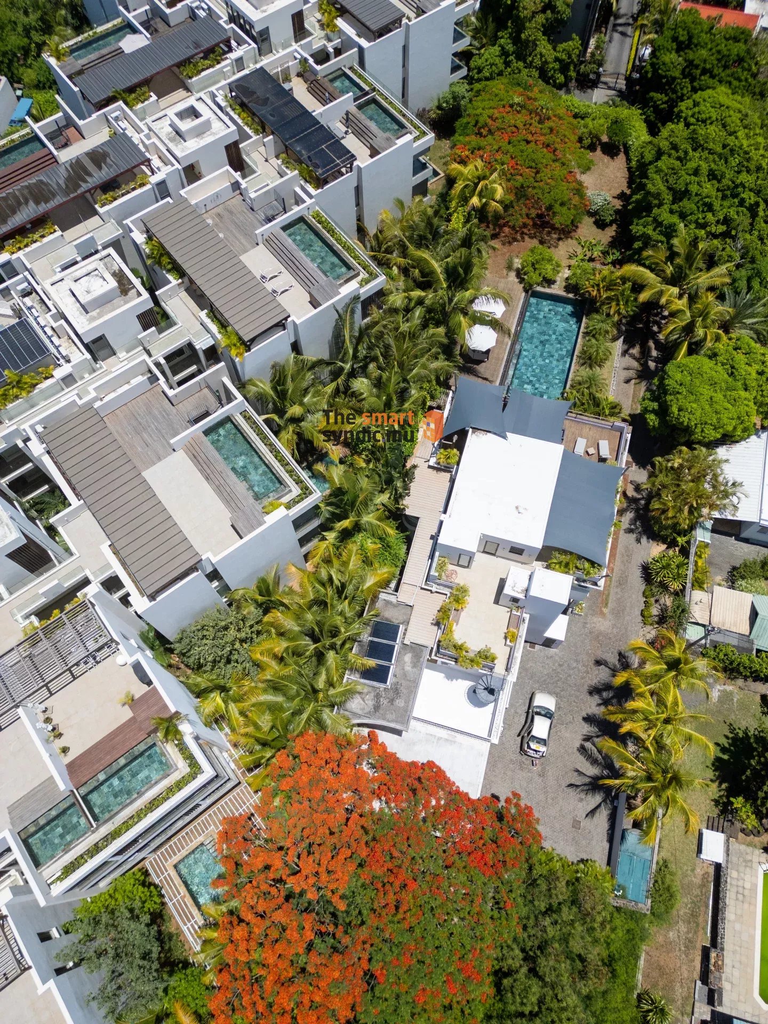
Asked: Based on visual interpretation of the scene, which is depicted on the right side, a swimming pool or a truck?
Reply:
swimming pool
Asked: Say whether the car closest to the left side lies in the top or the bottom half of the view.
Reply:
bottom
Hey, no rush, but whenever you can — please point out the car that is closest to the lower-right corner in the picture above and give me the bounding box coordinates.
[519,691,556,761]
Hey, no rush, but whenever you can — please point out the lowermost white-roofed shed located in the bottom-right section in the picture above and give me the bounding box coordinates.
[688,829,725,864]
